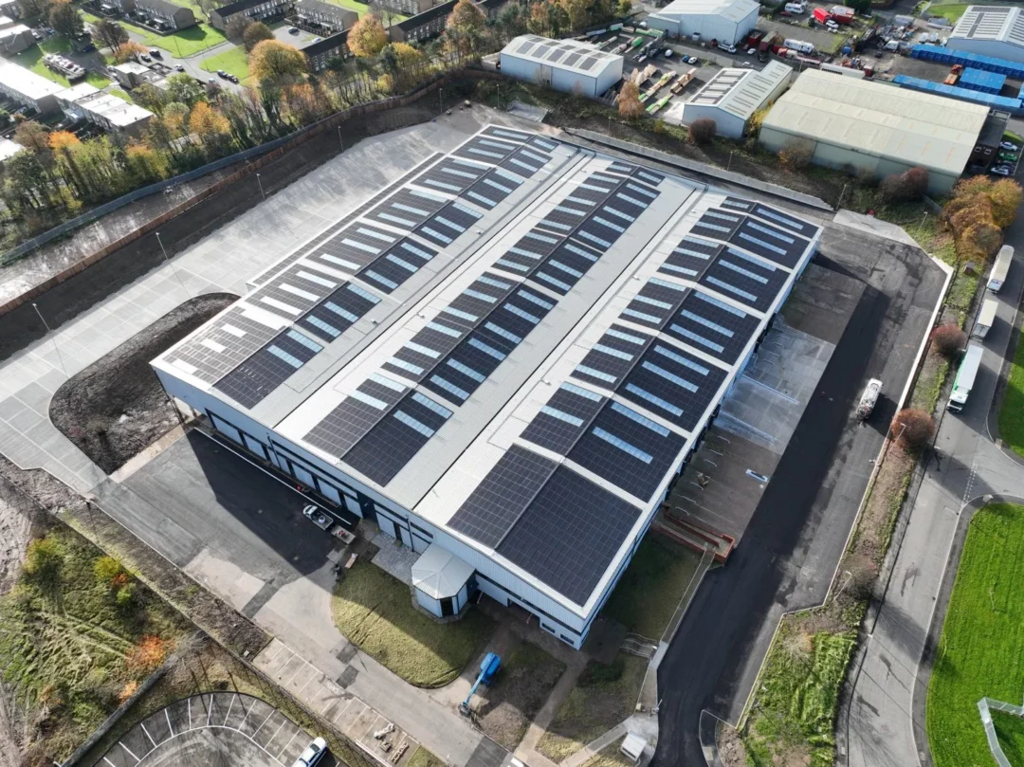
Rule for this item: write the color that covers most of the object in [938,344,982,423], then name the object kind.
white truck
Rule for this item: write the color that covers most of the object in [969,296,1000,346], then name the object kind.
white vehicle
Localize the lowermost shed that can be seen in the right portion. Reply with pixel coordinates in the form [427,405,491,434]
[616,719,651,757]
